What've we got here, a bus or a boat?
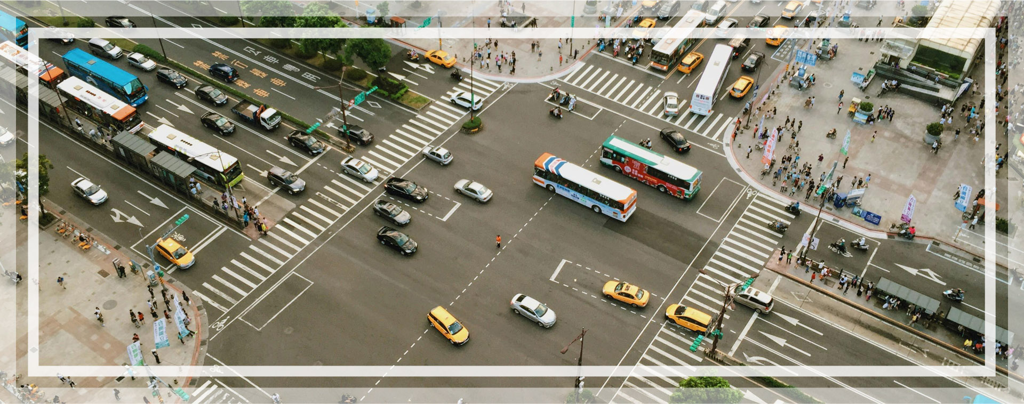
bus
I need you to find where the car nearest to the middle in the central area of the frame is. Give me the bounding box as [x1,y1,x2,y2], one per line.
[452,181,495,205]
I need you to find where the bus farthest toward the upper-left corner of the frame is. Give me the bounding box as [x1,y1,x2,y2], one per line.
[0,14,37,52]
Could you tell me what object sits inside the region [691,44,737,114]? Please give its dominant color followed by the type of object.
white bus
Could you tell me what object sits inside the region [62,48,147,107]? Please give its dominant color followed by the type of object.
blue bus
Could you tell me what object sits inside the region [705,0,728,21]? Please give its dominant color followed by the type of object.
white car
